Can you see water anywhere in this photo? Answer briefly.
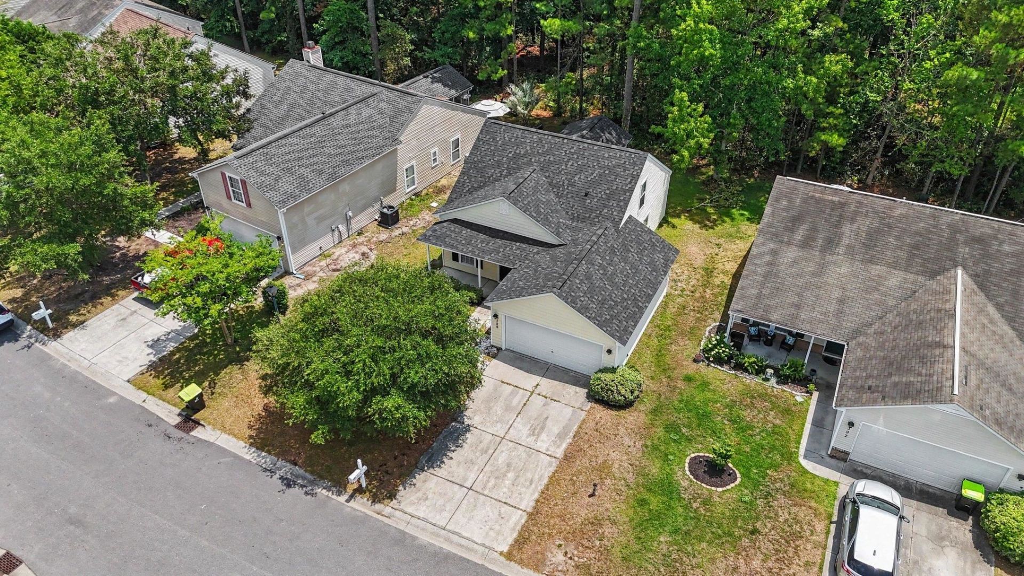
No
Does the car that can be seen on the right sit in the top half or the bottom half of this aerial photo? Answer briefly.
bottom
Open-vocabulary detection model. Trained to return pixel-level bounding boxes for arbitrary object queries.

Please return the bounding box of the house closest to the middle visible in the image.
[417,114,680,379]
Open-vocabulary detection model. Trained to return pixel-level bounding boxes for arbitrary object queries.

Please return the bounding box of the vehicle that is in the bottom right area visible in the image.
[832,480,911,576]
